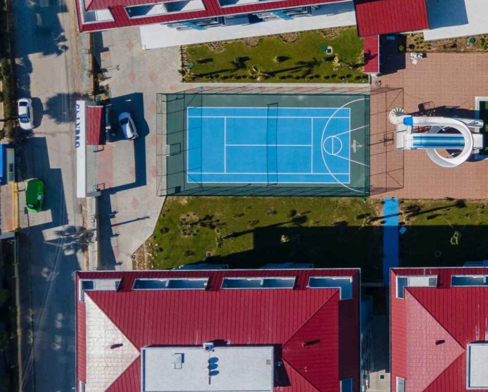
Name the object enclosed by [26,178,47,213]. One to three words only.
car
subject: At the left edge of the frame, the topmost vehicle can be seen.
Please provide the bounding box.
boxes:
[17,97,36,130]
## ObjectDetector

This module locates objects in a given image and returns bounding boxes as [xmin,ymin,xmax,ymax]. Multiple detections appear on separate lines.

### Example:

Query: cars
[17,97,36,130]
[119,110,139,142]
[26,178,47,213]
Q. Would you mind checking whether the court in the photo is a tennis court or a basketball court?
tennis court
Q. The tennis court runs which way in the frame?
from side to side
